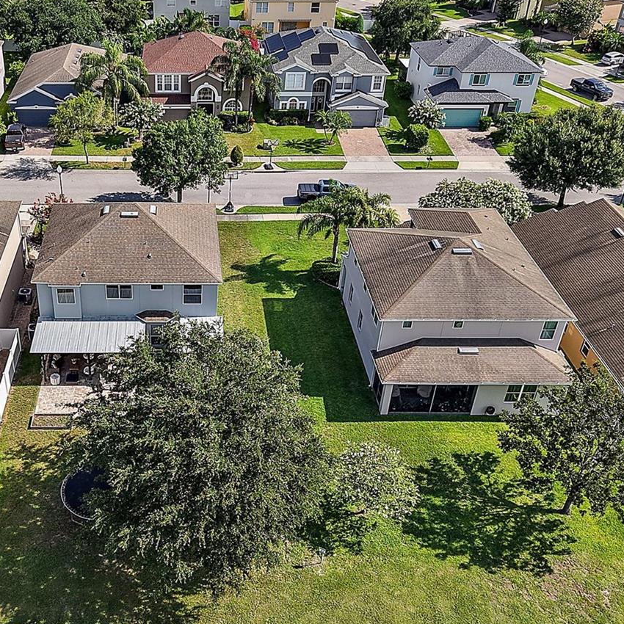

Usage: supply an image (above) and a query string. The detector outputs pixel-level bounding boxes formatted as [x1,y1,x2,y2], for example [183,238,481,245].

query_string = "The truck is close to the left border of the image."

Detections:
[0,125,28,150]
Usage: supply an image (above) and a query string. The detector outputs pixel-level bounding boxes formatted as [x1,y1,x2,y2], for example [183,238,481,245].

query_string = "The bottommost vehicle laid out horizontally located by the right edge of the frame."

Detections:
[567,73,615,95]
